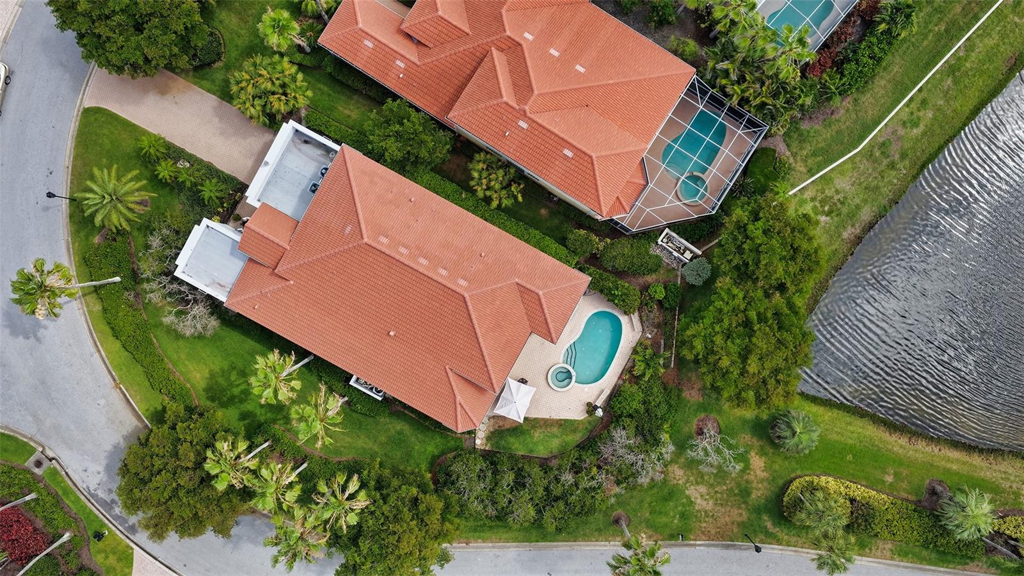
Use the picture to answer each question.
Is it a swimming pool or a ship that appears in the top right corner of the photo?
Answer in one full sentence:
You can see a swimming pool in the top right corner of the photo.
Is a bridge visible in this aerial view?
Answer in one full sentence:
No, this view has no bridge in it.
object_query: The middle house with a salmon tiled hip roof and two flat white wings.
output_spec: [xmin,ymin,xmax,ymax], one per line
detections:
[174,120,592,433]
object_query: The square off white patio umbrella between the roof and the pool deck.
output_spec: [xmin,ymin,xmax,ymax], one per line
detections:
[494,378,536,423]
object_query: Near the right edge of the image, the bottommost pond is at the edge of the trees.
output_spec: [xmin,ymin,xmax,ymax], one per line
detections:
[798,76,1024,452]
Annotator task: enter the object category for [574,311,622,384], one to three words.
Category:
swimming pool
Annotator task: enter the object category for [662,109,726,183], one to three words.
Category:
swimming pool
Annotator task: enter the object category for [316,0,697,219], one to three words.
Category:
house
